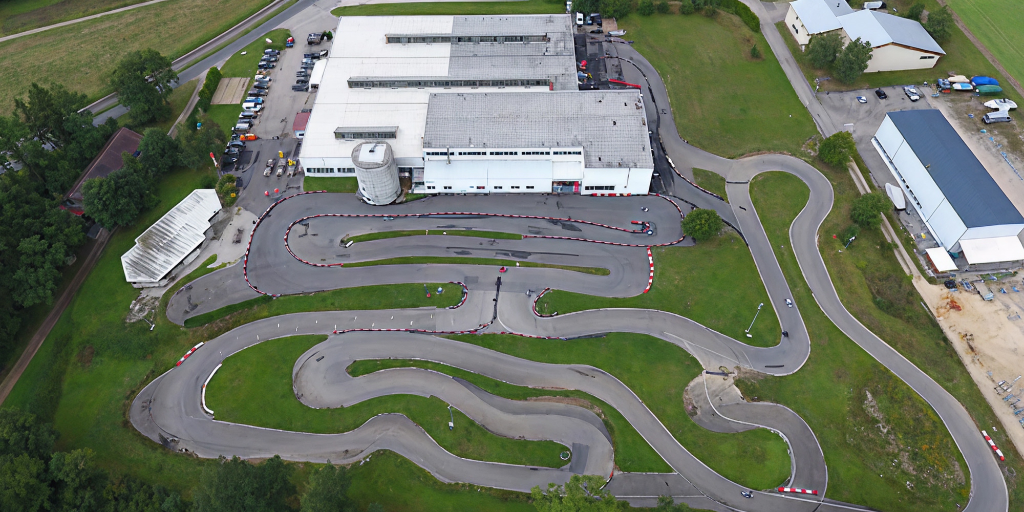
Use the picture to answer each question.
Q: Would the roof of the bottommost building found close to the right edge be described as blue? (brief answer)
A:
Yes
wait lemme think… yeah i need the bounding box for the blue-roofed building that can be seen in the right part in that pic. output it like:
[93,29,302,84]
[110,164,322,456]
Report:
[875,107,1024,250]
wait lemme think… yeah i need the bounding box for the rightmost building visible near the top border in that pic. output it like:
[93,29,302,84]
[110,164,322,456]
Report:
[838,9,946,67]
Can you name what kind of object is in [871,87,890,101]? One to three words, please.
car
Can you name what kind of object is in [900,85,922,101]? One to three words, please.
car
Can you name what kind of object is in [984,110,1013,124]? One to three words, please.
vehicle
